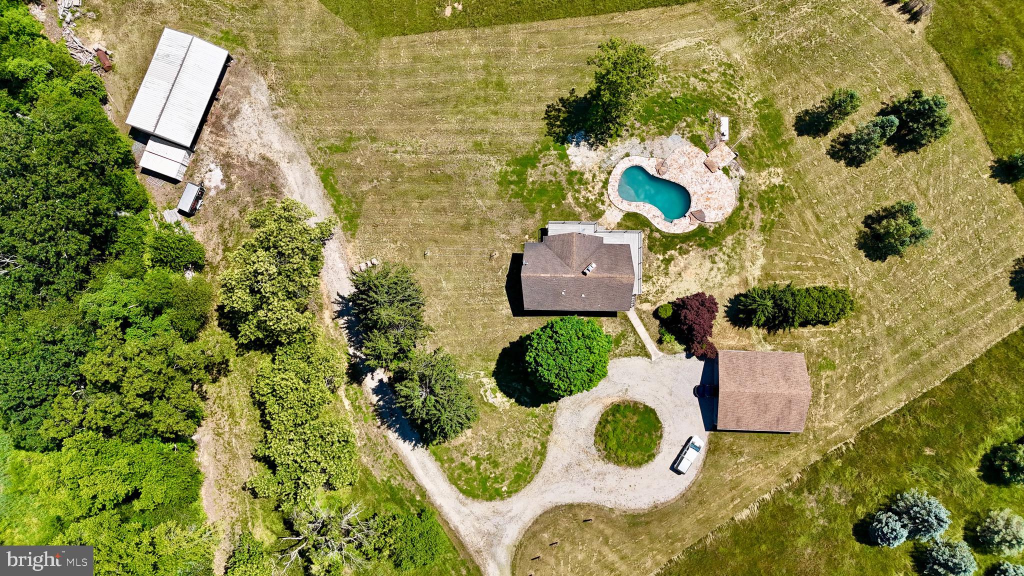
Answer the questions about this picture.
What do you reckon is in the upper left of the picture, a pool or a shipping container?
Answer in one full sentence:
What appears in the upper left of the picture is a shipping container.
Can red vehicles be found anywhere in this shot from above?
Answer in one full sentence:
No, there is no red vehicle in the image.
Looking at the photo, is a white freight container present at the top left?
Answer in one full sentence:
Yes, there is a white freight container at the top left.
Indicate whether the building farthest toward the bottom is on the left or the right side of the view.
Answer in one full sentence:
It is on the right.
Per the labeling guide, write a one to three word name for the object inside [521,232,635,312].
house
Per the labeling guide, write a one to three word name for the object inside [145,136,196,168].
shipping container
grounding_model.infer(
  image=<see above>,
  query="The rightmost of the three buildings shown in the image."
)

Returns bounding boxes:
[717,350,811,432]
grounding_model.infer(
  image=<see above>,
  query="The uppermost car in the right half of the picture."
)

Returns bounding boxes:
[693,385,719,399]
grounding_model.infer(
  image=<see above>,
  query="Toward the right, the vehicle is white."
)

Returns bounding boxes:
[673,435,702,476]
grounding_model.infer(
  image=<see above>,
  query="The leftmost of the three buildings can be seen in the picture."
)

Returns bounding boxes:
[125,28,236,150]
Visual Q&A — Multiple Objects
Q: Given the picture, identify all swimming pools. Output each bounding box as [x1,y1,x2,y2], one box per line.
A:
[618,166,691,221]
